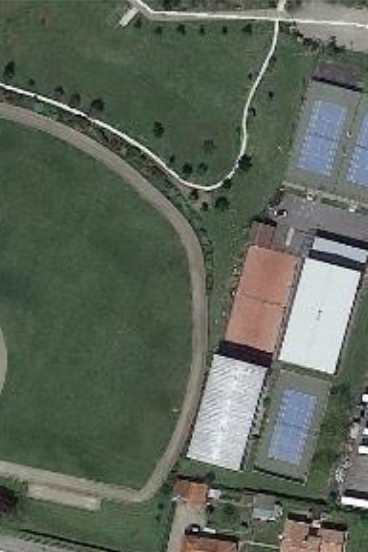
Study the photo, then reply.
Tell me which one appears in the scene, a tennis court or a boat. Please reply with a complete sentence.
I can see a tennis court in this picture.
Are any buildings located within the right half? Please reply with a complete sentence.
Yes, a building shows up within the right half.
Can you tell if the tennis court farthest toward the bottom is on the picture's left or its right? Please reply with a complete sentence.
The tennis court farthest toward the bottom sits on the right side.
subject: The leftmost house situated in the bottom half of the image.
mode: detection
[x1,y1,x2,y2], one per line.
[174,480,207,502]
